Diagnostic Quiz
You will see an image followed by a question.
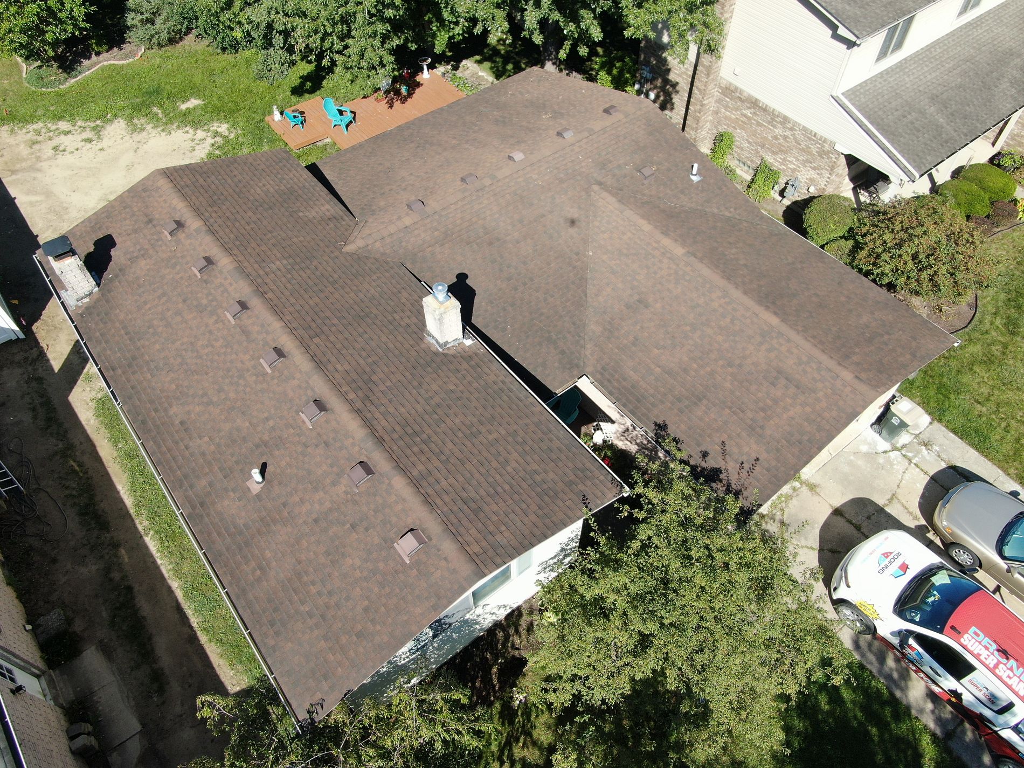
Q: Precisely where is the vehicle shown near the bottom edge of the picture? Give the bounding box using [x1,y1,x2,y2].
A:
[831,529,1024,768]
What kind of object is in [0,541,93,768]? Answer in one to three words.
house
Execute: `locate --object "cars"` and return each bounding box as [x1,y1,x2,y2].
[831,529,1024,768]
[923,477,1024,602]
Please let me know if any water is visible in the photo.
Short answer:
No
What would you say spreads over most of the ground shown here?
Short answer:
buildings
